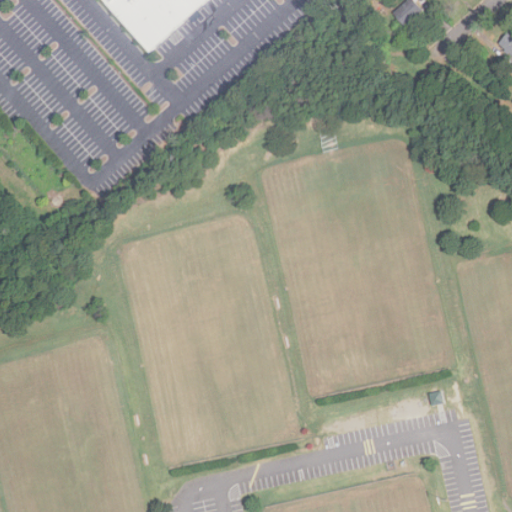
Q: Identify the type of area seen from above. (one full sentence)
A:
This looks like a sports ground.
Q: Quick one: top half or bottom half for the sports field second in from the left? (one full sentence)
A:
You can find the sports field second in from the left in the bottom half.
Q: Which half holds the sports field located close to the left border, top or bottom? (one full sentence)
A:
The sports field located close to the left border sits in the bottom half of the picture.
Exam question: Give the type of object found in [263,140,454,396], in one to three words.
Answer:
sports field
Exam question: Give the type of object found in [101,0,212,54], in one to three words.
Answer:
building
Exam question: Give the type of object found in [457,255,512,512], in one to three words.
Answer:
sports field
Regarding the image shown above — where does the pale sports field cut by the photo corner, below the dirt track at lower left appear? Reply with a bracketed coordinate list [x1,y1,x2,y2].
[0,337,144,512]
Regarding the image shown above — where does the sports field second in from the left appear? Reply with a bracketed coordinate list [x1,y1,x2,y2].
[121,216,298,466]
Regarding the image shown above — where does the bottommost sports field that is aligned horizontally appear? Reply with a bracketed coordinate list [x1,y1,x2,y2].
[257,476,430,512]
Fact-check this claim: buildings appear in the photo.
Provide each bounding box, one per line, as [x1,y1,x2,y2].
[428,390,443,406]
[393,0,422,25]
[498,30,512,58]
[101,0,212,54]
